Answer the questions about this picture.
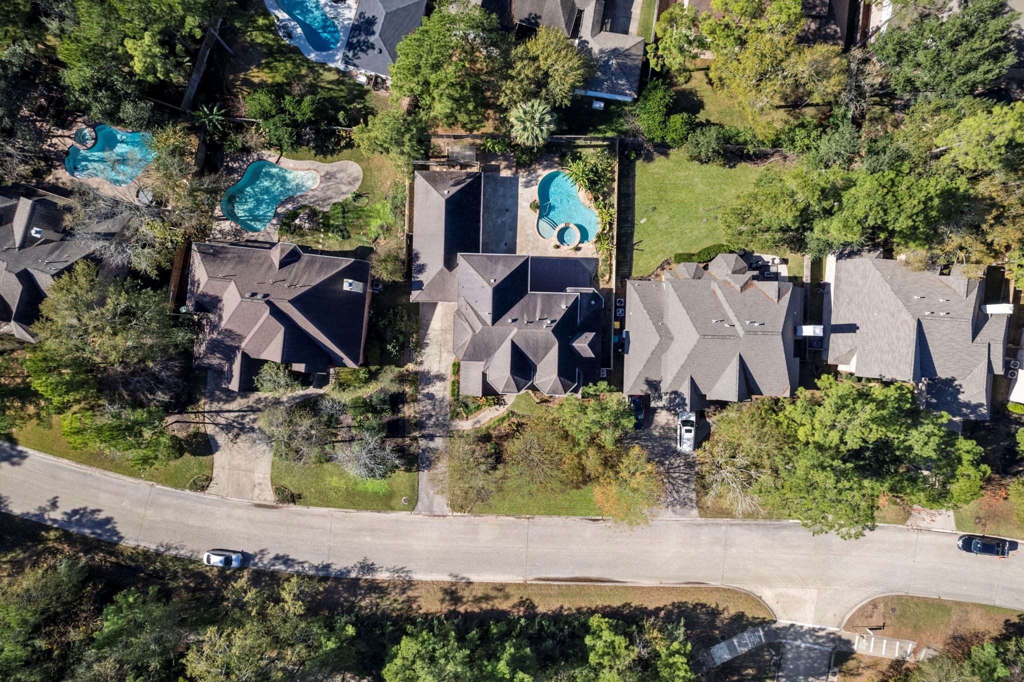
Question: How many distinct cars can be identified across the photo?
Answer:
four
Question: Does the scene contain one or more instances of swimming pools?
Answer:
Yes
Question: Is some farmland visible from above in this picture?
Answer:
No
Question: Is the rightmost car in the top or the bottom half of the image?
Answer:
bottom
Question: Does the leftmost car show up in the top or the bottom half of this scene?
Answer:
bottom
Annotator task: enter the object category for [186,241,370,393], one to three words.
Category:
house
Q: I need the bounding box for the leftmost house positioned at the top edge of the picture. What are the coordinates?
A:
[341,0,428,82]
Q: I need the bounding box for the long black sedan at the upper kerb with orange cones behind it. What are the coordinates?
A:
[956,533,1010,557]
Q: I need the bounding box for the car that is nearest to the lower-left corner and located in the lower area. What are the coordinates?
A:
[202,548,244,569]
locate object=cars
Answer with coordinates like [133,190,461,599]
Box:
[677,411,698,453]
[956,533,1010,557]
[626,396,646,433]
[202,548,244,569]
